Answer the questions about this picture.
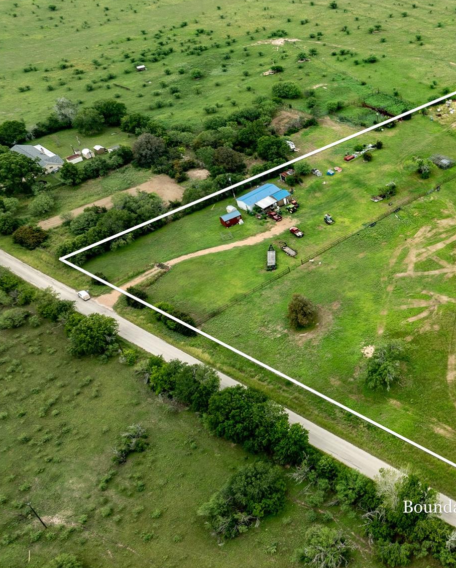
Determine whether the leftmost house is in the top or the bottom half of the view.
top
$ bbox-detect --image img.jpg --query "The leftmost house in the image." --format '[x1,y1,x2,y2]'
[9,144,58,169]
